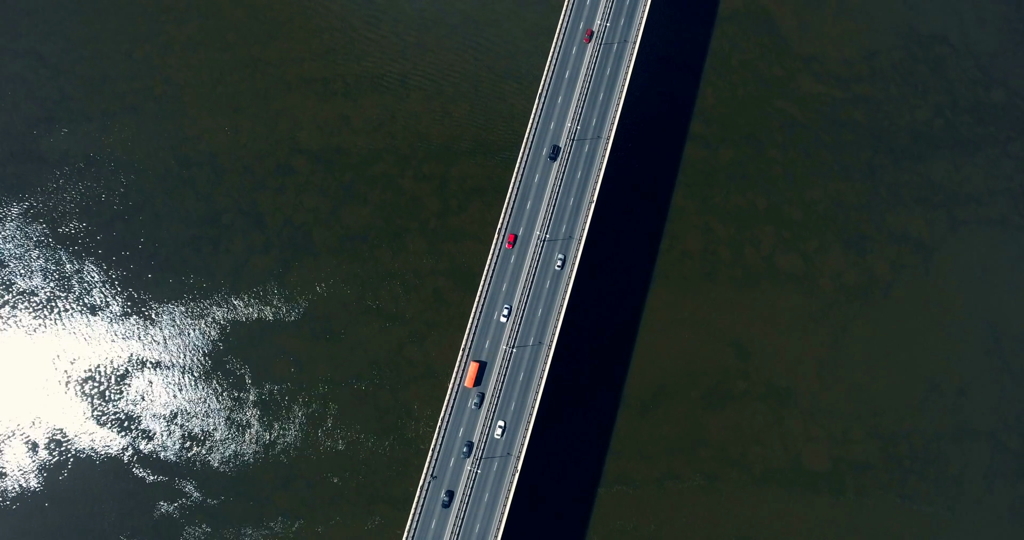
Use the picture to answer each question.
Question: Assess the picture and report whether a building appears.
No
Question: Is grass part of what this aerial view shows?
No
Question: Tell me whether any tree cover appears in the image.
No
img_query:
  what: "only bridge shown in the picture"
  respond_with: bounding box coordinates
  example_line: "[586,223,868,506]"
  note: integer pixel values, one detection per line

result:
[403,0,651,540]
